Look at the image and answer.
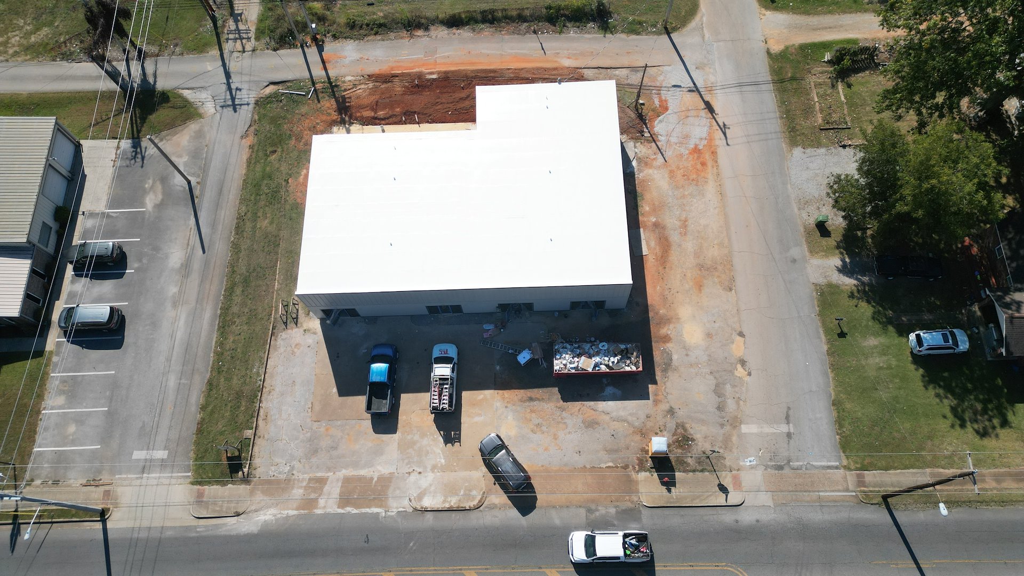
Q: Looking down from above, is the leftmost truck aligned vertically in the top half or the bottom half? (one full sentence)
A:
Seen from above, the leftmost truck aligned vertically lies in the bottom half of the view.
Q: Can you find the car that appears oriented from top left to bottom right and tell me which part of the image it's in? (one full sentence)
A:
The car that appears oriented from top left to bottom right is located in the bottom region of the scene.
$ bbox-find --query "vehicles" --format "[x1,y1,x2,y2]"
[429,344,459,415]
[61,304,127,335]
[902,327,969,358]
[567,528,652,566]
[365,344,398,417]
[64,241,127,271]
[477,431,535,499]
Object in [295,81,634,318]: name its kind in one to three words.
building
